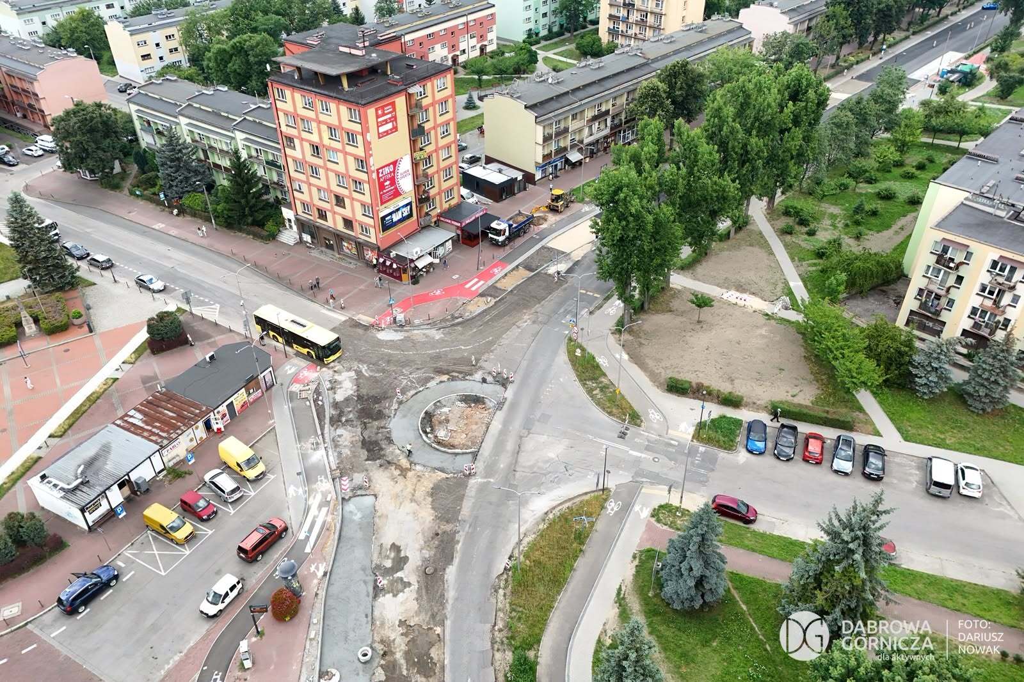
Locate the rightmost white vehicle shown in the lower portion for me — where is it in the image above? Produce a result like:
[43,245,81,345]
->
[960,462,987,499]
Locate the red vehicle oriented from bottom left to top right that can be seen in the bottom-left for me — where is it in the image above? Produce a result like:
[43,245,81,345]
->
[235,515,289,564]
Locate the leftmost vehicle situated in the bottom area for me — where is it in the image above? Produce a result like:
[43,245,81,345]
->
[55,562,120,615]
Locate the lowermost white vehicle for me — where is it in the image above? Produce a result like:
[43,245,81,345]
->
[200,570,244,617]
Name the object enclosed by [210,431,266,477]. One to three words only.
van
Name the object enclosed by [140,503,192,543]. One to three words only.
van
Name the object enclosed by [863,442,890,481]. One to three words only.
car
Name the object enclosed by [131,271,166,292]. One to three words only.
car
